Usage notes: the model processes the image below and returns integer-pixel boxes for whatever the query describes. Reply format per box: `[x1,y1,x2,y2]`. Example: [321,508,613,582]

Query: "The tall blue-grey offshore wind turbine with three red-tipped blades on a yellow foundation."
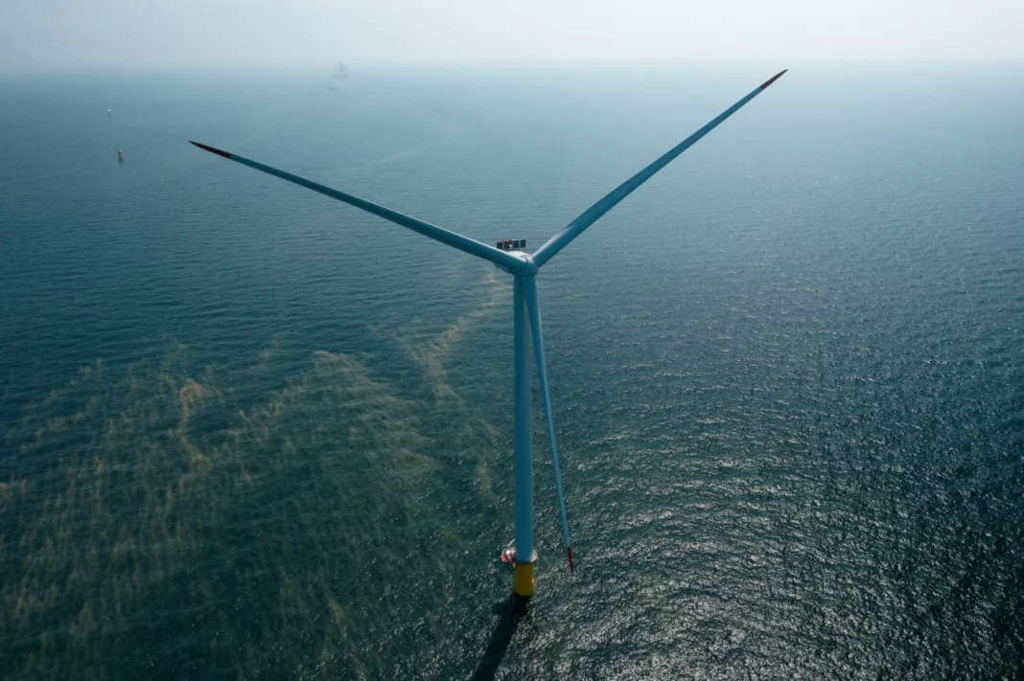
[191,67,789,596]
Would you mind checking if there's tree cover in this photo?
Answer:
No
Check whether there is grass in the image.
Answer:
No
